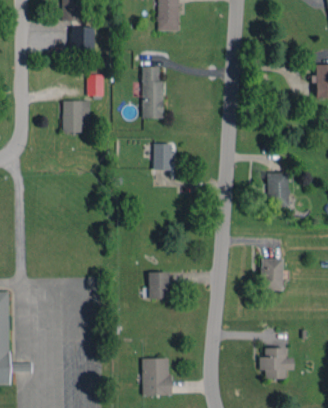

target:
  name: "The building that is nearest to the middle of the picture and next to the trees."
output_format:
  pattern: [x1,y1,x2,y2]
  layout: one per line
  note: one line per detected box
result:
[154,143,176,170]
